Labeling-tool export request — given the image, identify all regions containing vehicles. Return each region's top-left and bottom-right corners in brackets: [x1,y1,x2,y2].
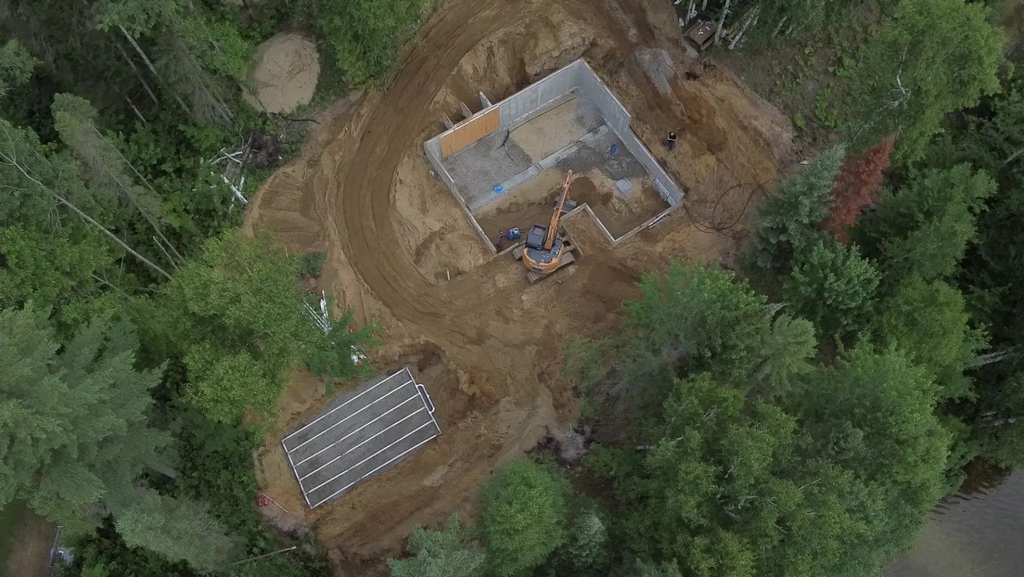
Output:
[508,164,586,283]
